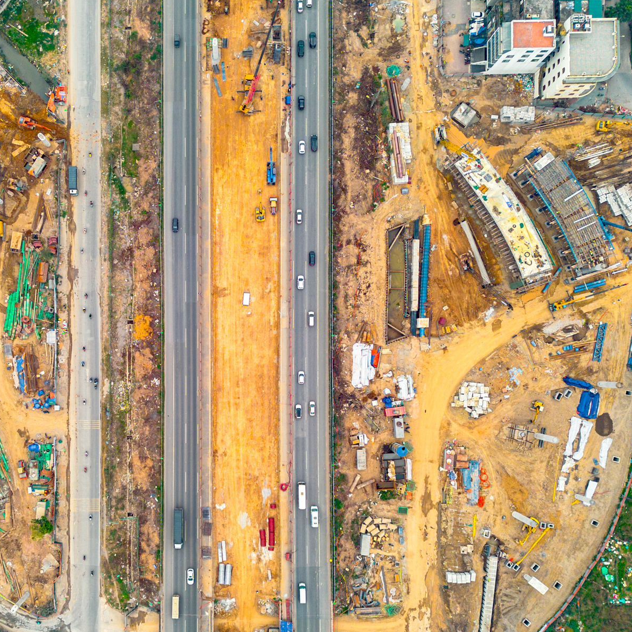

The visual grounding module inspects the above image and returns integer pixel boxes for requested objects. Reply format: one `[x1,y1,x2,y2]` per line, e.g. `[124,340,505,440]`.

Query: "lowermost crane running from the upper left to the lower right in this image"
[454,253,514,311]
